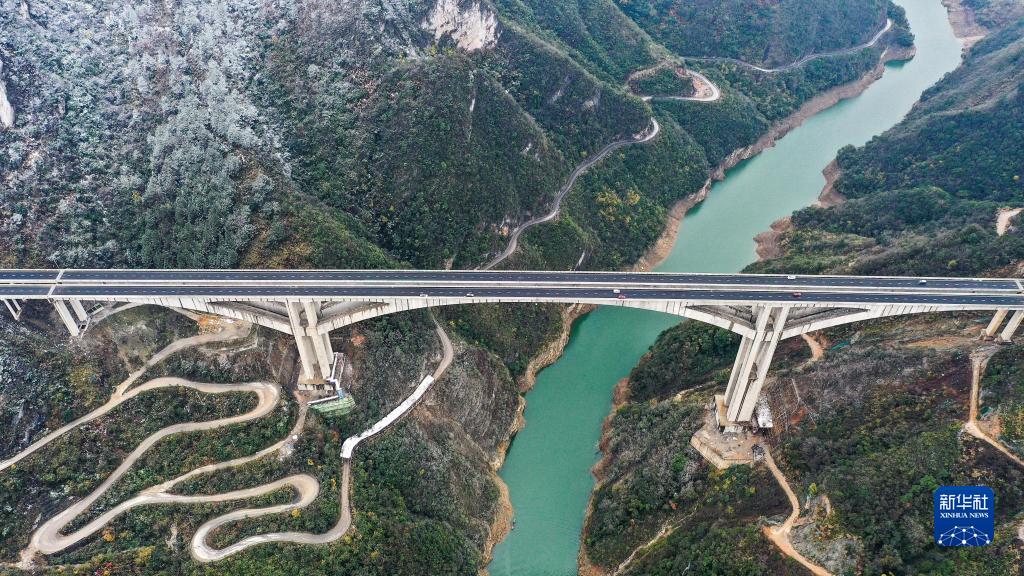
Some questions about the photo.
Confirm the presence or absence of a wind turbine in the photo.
No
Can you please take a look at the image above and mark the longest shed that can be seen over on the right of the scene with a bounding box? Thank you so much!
[756,394,773,433]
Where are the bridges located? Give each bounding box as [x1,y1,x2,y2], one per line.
[0,269,1024,433]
